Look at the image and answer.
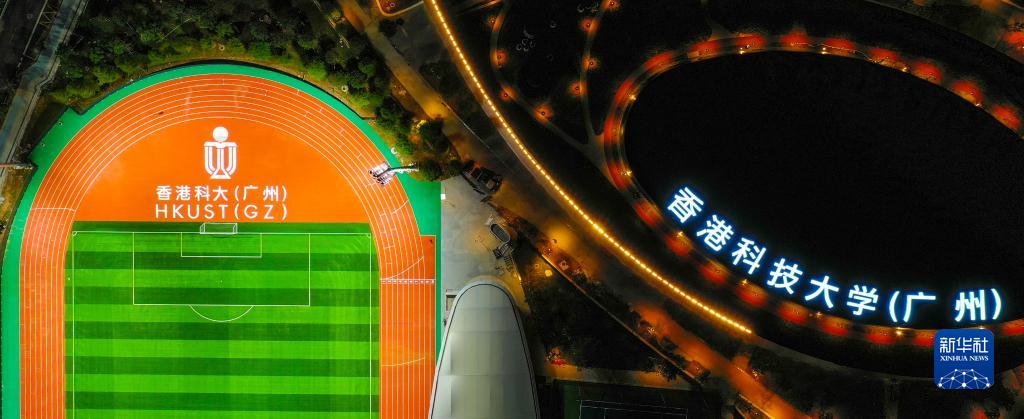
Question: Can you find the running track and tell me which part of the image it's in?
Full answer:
Look in the left portion of the view to spot the running track.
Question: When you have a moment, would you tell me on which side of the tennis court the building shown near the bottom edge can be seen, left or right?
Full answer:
The building shown near the bottom edge is to the left of the tennis court.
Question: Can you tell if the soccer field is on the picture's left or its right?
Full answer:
The soccer field appears in the left half of the scene.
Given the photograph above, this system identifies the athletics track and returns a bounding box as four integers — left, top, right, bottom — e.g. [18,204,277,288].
[1,64,441,419]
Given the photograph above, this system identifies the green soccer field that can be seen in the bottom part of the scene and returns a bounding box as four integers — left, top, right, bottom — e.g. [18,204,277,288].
[64,221,379,419]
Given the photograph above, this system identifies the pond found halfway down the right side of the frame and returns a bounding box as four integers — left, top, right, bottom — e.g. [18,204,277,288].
[622,52,1024,330]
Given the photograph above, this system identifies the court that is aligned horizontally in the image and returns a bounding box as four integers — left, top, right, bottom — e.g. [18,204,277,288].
[553,380,707,419]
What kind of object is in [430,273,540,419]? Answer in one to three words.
building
